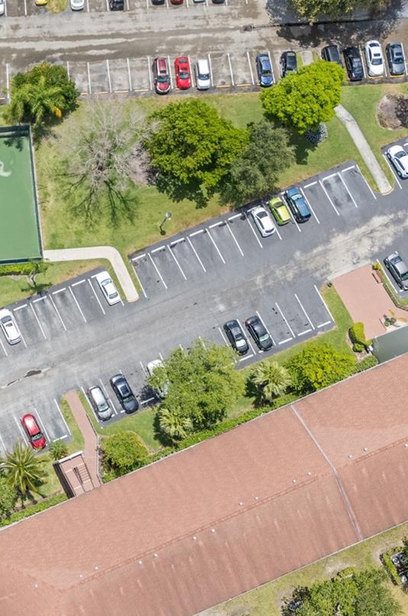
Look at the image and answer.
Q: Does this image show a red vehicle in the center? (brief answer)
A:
No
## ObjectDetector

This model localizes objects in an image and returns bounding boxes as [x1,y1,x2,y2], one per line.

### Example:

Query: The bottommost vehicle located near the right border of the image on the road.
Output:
[383,254,408,291]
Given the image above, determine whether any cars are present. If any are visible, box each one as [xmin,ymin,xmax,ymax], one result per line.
[194,60,212,90]
[384,42,406,77]
[255,54,273,87]
[152,59,172,93]
[95,270,121,308]
[364,42,384,77]
[278,49,298,73]
[388,146,408,179]
[173,56,193,92]
[383,254,408,291]
[322,46,342,78]
[221,319,250,357]
[343,47,365,81]
[69,0,84,11]
[34,0,47,6]
[249,205,278,241]
[267,197,292,229]
[0,309,22,346]
[87,386,112,422]
[20,411,48,452]
[284,187,313,224]
[0,0,6,16]
[245,315,273,354]
[110,374,139,413]
[109,0,124,8]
